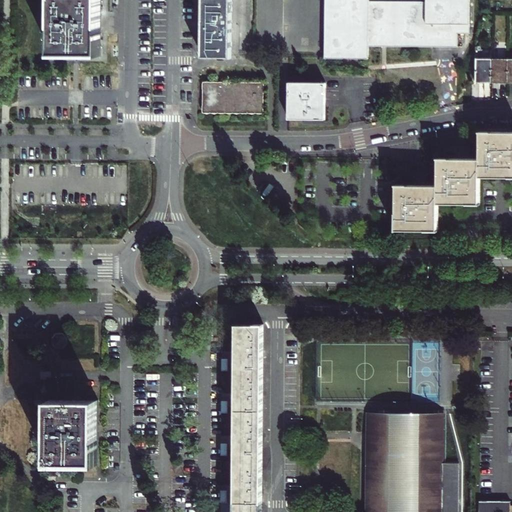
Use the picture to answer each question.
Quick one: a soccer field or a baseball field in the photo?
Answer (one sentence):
This aerial view contains a soccer field.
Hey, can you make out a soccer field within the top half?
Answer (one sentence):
No, no soccer field can be made out within the top half.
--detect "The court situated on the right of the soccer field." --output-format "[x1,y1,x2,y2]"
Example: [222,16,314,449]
[412,341,440,404]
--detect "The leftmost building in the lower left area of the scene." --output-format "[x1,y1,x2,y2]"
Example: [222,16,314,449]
[37,401,98,472]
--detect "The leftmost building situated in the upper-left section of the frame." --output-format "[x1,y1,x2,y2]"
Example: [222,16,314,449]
[41,0,100,60]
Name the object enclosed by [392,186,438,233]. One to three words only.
building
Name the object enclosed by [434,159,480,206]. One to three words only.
building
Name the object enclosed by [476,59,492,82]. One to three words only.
house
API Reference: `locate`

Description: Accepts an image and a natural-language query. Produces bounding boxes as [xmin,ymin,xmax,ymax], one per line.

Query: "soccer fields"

[316,340,411,402]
